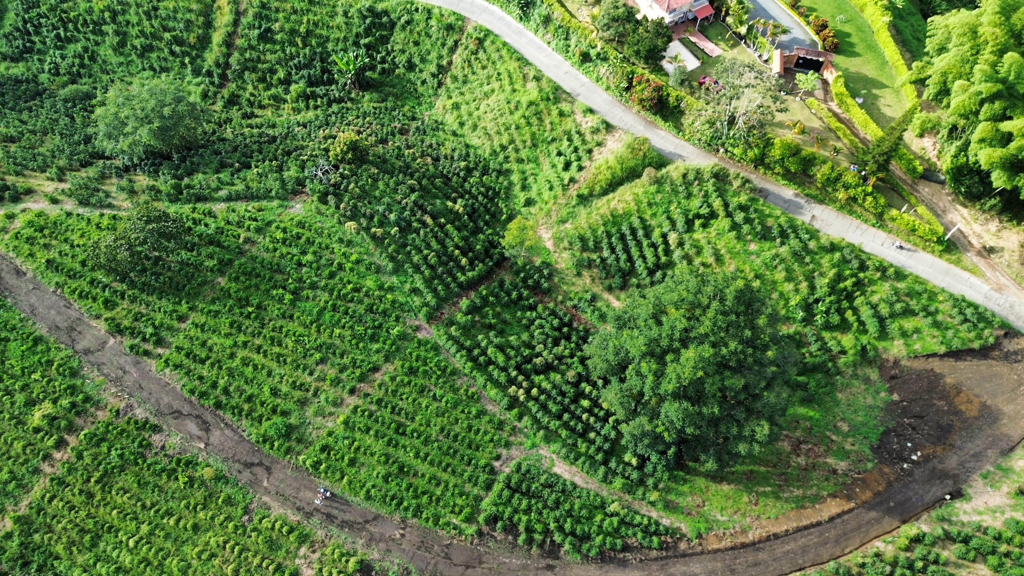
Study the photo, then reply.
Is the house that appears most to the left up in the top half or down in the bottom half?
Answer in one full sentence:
You can find the house that appears most to the left in the top half.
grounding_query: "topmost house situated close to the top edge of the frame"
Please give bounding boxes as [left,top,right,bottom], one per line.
[650,0,714,30]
